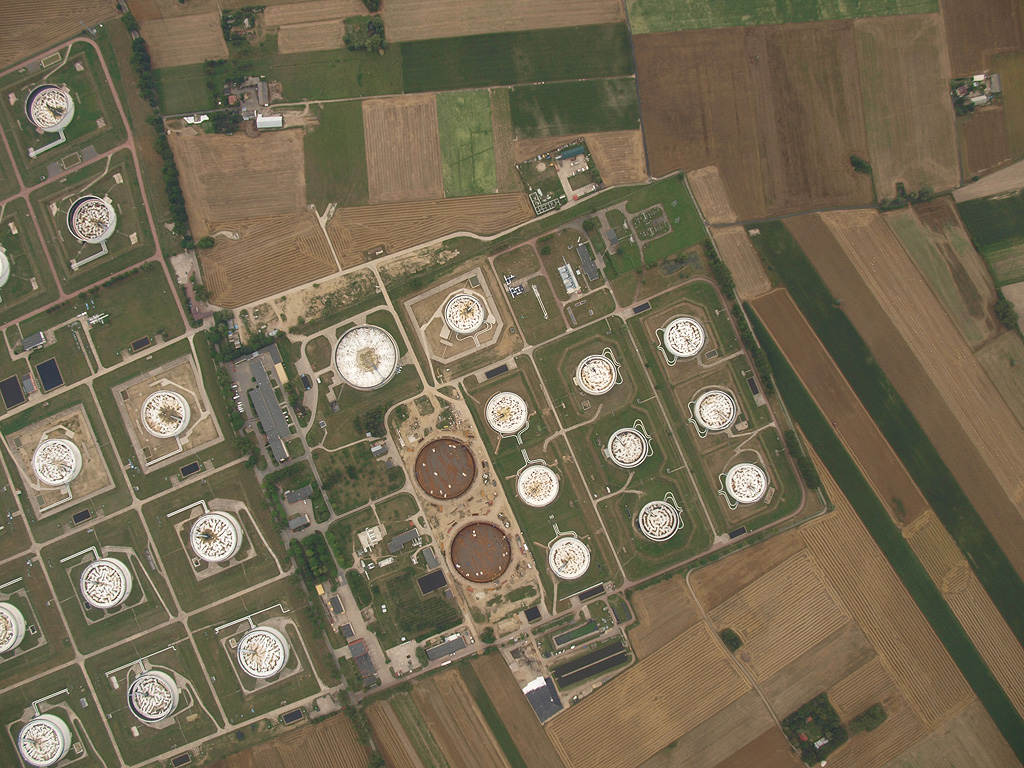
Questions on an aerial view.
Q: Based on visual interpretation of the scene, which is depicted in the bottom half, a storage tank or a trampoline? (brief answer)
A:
storage tank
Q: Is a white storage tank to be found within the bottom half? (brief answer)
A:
Yes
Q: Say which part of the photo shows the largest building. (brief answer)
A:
left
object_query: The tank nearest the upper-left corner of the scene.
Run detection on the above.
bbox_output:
[25,84,75,132]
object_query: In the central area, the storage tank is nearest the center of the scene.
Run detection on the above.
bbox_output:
[487,391,529,433]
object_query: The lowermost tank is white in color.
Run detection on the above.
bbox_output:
[16,715,70,767]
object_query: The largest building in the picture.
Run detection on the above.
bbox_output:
[249,360,292,461]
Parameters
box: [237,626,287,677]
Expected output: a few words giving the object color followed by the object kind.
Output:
white storage tank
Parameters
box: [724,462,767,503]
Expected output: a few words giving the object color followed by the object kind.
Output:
white storage tank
